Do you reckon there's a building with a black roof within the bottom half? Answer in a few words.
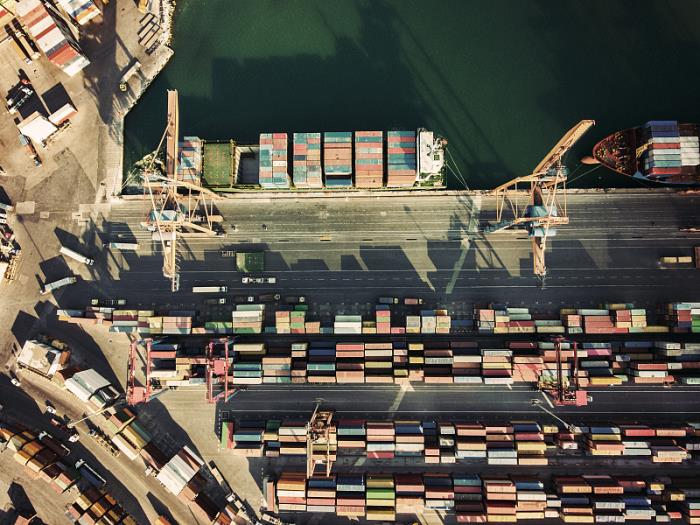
No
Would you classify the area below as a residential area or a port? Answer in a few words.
port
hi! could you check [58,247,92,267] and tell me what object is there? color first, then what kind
white vehicle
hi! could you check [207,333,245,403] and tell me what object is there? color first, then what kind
red container crane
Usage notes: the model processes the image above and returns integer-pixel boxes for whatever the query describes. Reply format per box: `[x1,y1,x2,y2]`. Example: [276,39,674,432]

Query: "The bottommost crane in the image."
[305,400,338,478]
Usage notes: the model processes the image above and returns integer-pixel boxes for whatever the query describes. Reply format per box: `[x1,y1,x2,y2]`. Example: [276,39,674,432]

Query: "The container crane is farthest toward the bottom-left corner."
[129,334,173,404]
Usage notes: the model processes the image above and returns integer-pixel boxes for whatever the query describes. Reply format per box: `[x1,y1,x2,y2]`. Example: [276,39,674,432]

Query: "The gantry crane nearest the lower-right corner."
[537,332,581,404]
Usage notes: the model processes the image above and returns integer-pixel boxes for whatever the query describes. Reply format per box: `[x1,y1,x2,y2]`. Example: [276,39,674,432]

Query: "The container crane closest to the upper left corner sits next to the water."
[144,93,228,296]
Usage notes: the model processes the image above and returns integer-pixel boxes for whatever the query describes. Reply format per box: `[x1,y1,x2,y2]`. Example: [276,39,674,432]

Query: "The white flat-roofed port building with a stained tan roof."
[18,340,66,377]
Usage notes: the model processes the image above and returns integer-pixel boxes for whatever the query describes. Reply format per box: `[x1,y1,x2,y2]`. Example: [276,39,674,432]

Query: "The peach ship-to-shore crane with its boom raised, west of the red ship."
[487,113,590,273]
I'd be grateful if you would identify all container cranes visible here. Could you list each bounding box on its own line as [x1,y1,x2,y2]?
[537,332,581,404]
[207,333,245,403]
[144,93,228,296]
[129,334,173,404]
[487,113,590,273]
[305,400,338,478]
